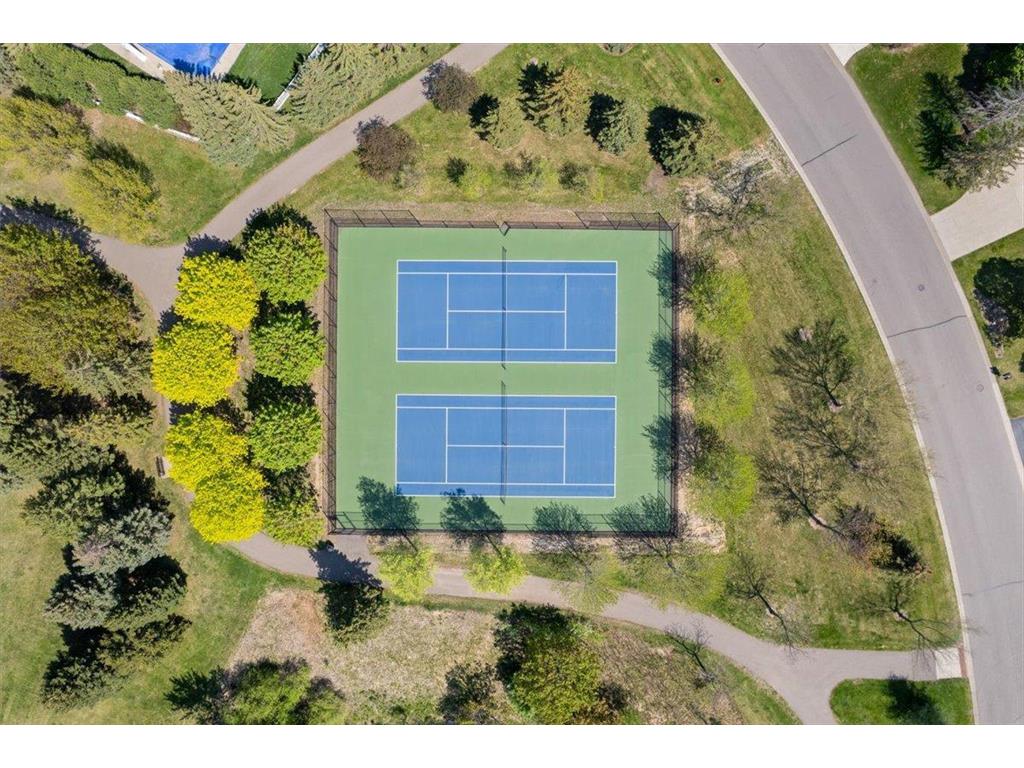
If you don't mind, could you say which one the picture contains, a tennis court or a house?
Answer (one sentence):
I can see a tennis court in this picture.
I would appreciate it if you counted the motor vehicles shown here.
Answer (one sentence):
The picture shows no motor vehicles.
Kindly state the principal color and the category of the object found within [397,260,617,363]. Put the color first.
blue tennis court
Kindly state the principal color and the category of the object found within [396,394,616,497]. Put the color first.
blue tennis court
